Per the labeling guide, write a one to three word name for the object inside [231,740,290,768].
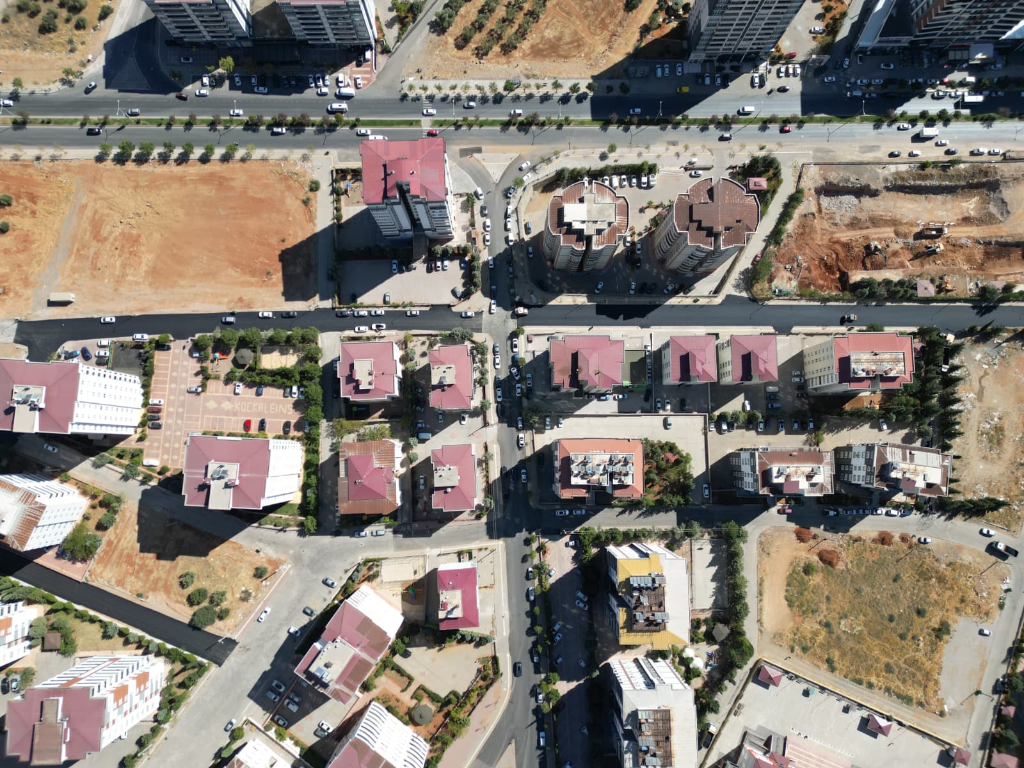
building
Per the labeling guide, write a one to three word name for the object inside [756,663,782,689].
building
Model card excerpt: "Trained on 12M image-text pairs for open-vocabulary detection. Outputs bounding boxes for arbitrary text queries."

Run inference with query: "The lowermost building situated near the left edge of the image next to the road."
[5,653,163,767]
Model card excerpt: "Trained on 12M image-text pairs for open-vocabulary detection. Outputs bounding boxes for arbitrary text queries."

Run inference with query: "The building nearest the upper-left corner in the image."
[139,0,249,50]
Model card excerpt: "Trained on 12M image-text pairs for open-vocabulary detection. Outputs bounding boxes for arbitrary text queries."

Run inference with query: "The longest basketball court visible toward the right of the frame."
[693,540,727,608]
